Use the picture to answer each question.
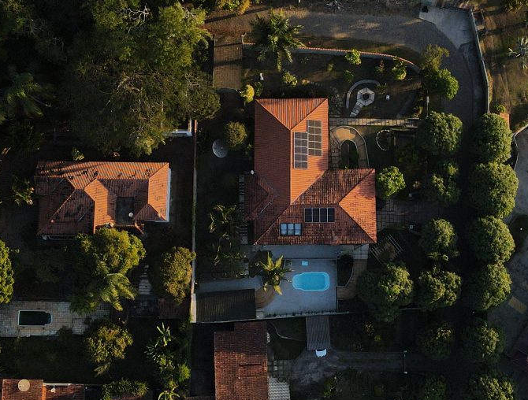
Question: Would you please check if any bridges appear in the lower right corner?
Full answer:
No, the scene shows no bridge in the lower right corner.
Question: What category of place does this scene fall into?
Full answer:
It's a residential area.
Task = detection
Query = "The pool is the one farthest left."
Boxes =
[17,311,52,327]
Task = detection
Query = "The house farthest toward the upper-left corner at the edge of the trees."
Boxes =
[34,162,169,235]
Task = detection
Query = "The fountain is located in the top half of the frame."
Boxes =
[356,89,374,106]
